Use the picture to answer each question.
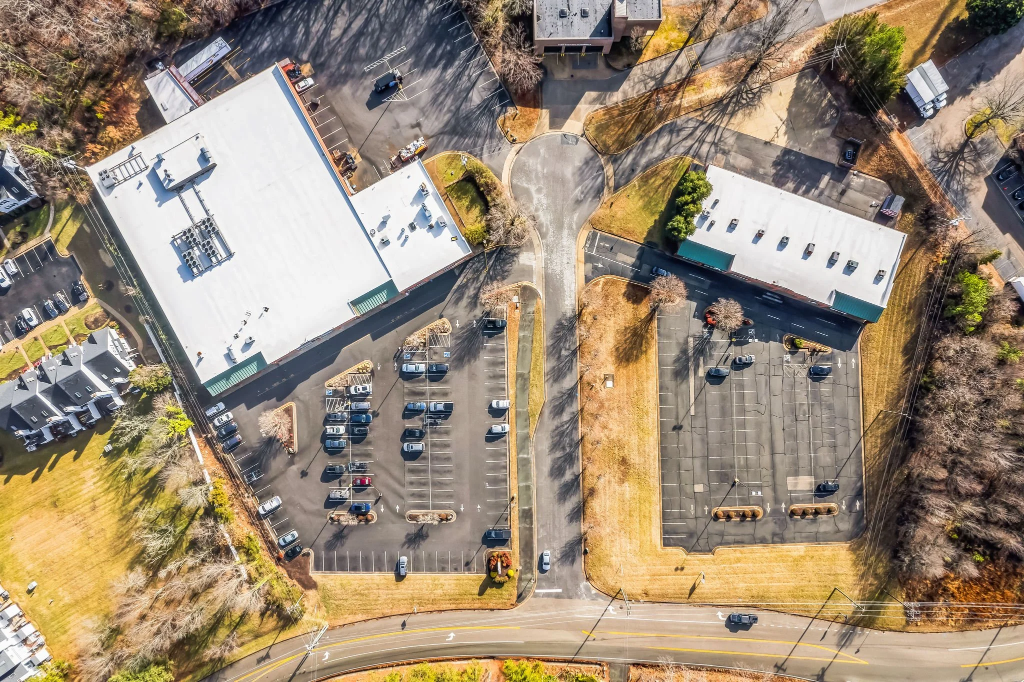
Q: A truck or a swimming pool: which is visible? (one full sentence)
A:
This aerial view contains a truck.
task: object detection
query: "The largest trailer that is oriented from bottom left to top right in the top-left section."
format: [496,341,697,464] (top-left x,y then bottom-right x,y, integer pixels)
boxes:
[177,38,233,84]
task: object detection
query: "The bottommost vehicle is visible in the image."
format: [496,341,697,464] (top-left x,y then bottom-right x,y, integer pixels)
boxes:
[728,612,756,625]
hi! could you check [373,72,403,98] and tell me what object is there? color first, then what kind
black truck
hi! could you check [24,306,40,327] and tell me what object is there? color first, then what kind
white car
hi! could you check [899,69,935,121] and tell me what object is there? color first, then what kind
white truck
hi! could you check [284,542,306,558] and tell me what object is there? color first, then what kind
black car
